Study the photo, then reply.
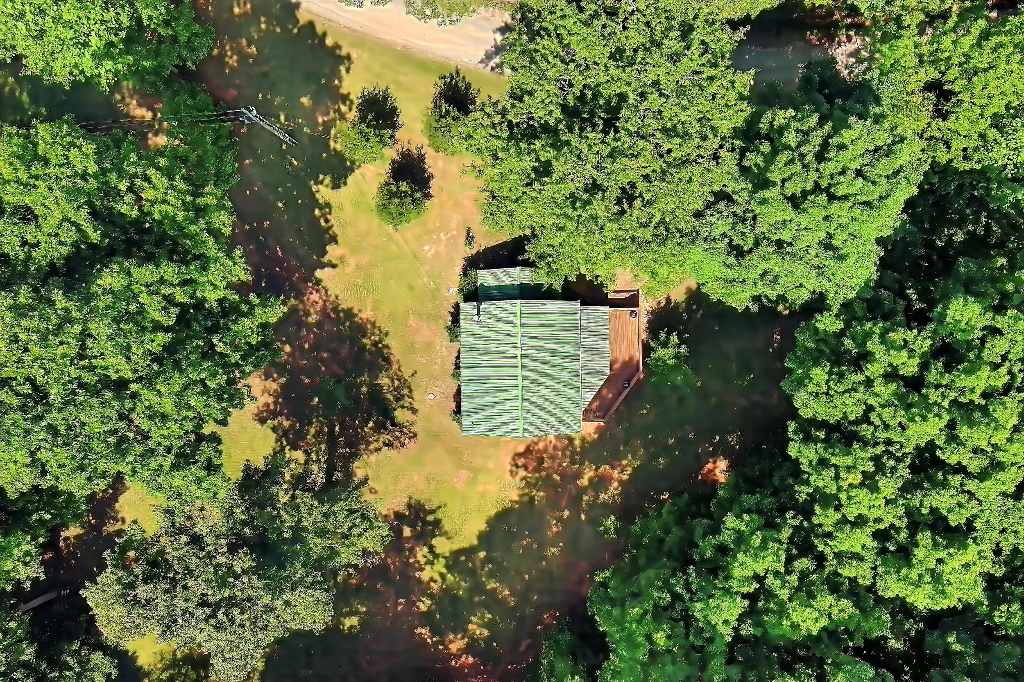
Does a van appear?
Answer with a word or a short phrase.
No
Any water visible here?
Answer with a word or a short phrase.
No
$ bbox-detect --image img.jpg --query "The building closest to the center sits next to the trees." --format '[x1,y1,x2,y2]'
[459,266,610,439]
